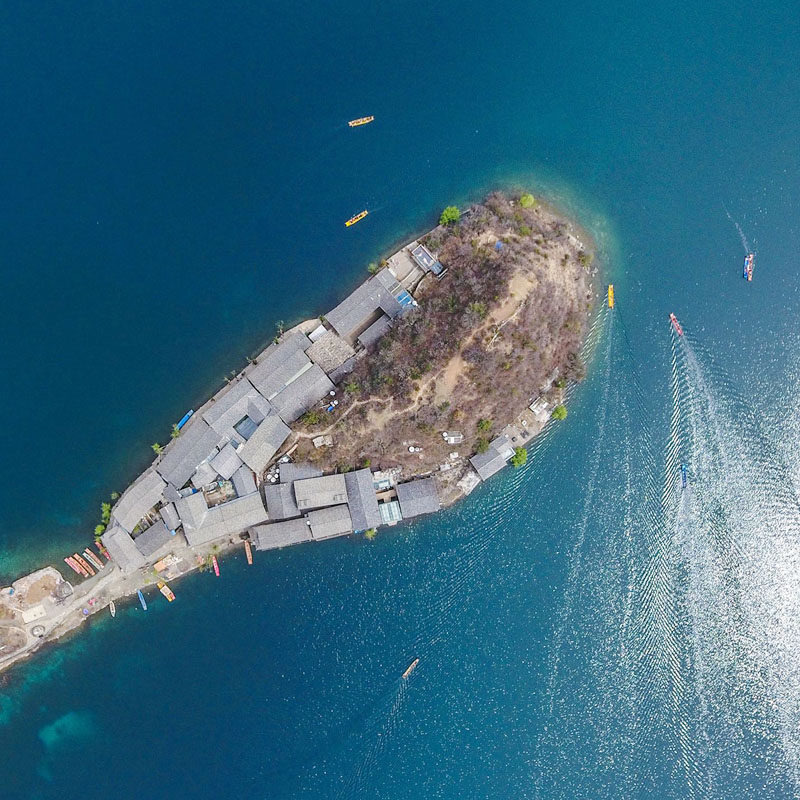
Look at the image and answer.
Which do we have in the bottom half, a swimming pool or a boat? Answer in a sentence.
Visible in the bottom half is a boat.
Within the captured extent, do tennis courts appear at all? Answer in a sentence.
No, I can't see a single tennis court in this photo.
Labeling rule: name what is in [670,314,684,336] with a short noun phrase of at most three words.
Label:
boat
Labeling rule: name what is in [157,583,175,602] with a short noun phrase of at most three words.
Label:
boat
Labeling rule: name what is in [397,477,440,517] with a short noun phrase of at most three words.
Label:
house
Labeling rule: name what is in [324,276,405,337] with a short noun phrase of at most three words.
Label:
house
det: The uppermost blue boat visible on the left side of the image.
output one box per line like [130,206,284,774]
[177,409,193,430]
